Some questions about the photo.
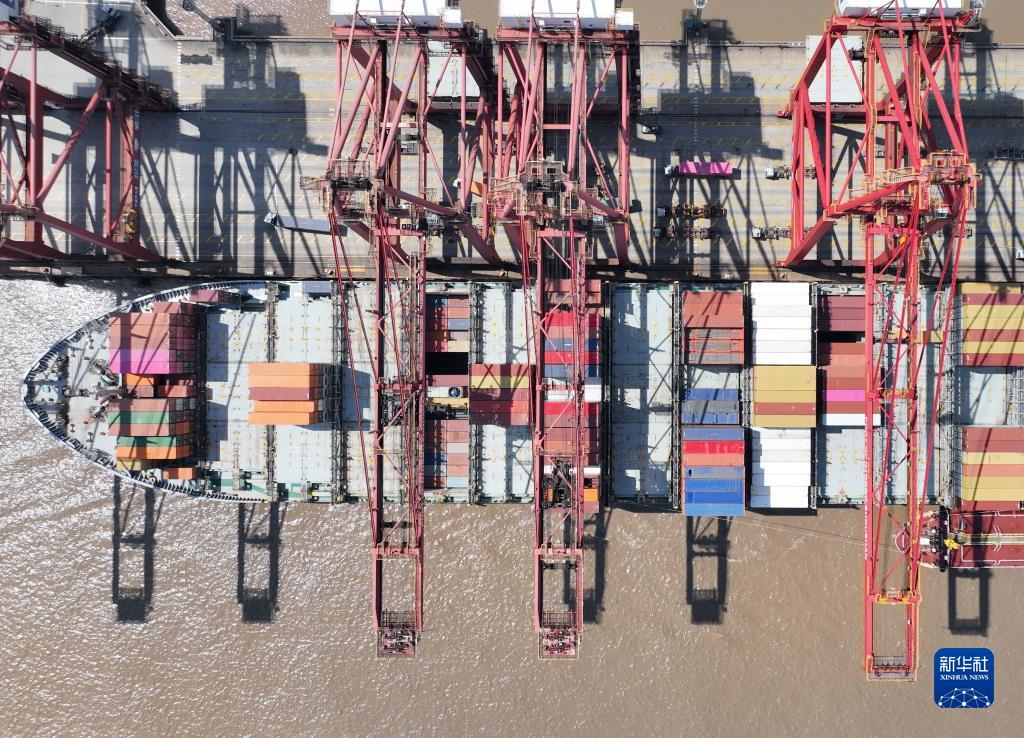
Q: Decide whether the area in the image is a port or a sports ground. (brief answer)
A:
port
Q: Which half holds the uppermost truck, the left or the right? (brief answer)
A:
left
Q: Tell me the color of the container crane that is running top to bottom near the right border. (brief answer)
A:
red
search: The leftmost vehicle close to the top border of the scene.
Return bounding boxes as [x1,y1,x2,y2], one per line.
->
[67,0,122,47]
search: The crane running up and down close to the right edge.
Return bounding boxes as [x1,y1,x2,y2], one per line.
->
[769,0,980,685]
